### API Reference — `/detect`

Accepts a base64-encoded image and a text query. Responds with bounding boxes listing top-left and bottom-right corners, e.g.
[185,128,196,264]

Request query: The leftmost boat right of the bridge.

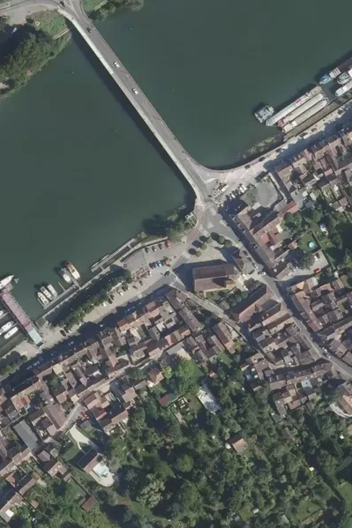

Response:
[255,104,275,121]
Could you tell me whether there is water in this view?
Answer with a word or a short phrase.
Yes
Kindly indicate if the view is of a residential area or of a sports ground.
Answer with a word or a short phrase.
residential area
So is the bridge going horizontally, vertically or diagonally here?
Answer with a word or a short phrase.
diagonally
